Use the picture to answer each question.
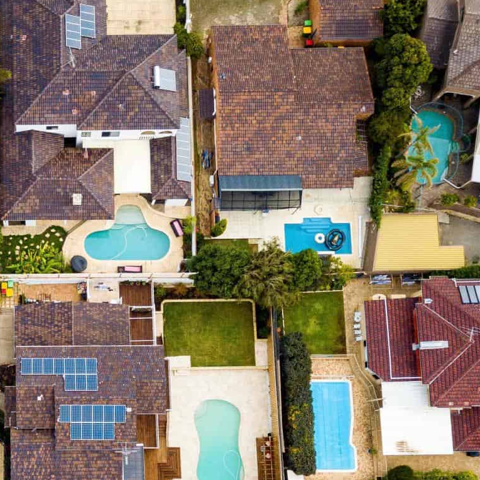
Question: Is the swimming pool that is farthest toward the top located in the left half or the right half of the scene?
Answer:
right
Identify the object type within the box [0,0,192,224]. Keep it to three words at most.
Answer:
house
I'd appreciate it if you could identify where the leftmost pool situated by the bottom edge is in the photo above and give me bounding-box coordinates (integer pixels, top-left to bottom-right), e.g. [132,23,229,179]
[191,396,248,480]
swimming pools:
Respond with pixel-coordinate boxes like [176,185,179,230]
[311,379,359,472]
[191,396,248,480]
[81,201,174,264]
[403,105,458,188]
[283,215,353,256]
